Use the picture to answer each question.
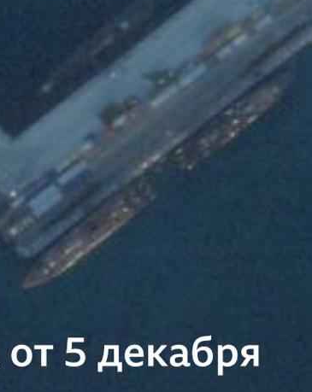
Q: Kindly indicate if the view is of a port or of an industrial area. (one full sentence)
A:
It's a port.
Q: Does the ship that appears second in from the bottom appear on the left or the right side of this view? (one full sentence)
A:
The ship that appears second in from the bottom sits on the right side.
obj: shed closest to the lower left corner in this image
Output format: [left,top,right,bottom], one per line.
[29,184,64,216]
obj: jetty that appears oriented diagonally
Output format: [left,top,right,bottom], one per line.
[14,0,311,256]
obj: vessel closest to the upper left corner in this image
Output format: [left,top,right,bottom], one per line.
[41,0,155,95]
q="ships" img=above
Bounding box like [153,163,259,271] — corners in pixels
[171,73,294,173]
[25,174,163,286]
[41,0,155,95]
